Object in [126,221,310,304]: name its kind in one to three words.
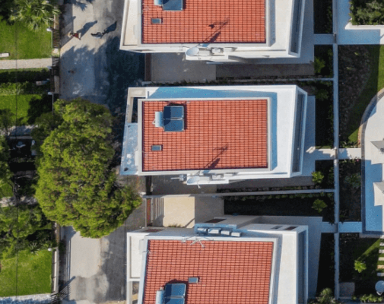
house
